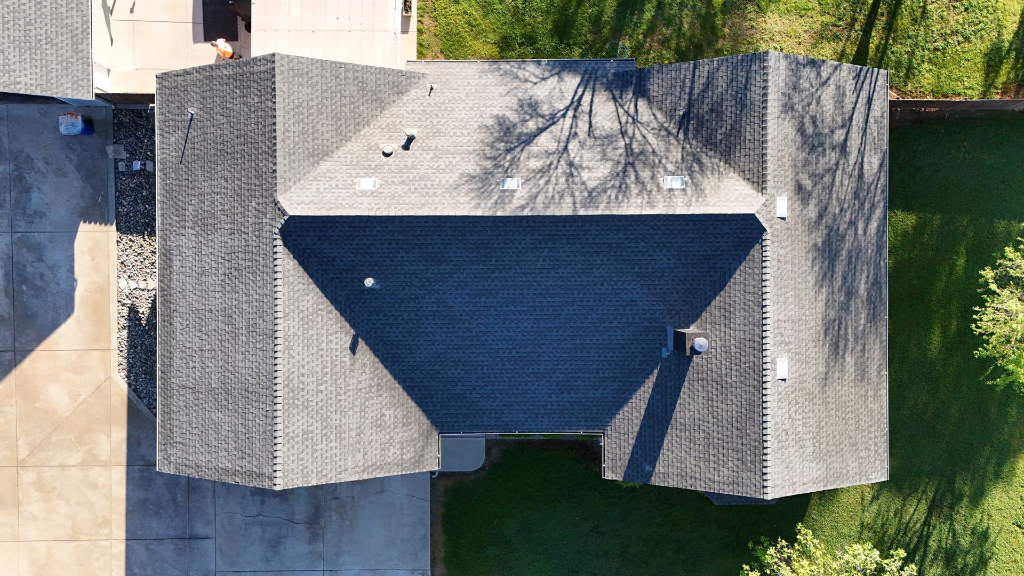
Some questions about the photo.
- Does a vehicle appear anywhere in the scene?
No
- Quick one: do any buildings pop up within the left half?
Yes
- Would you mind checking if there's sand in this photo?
No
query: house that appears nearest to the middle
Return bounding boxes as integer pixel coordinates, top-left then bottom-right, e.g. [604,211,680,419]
[153,49,891,504]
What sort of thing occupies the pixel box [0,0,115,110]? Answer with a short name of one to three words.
house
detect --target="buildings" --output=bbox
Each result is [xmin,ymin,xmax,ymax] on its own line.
[153,49,891,504]
[0,0,115,110]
